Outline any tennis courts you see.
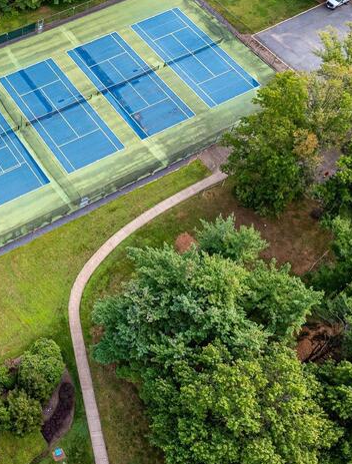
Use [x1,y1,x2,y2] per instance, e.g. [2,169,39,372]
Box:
[131,7,260,107]
[66,31,194,139]
[0,57,125,174]
[0,112,50,205]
